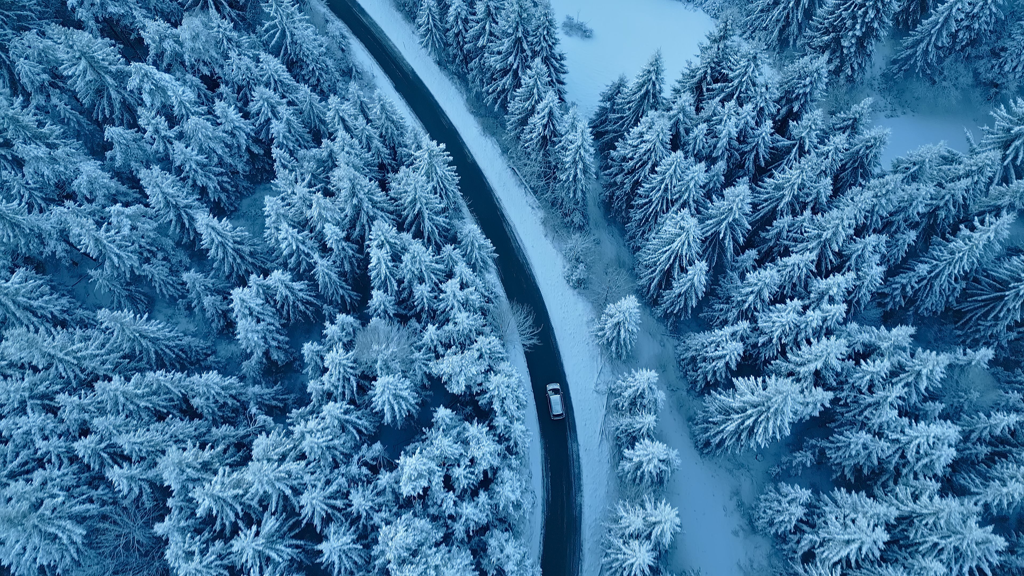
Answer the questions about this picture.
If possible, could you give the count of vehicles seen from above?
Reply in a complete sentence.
I count just 1 vehicle.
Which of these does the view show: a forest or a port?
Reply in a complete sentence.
The area seen from above is a forest.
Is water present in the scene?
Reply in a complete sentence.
No, there's no water in this view.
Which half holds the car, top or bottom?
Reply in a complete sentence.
The car is in the bottom half of the image.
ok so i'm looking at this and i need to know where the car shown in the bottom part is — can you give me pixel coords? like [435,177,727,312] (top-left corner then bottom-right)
[546,382,566,420]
